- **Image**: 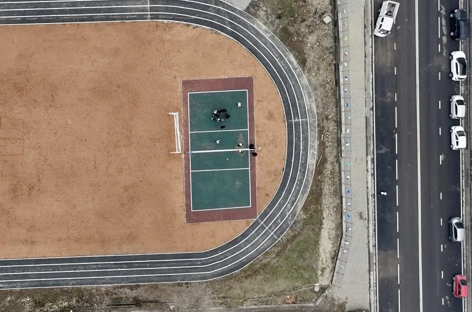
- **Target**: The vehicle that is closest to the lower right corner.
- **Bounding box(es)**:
[454,276,470,299]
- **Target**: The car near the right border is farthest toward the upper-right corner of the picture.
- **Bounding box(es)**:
[451,8,470,39]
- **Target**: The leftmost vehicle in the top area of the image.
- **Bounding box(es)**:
[377,0,401,37]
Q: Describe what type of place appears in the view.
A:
sports ground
